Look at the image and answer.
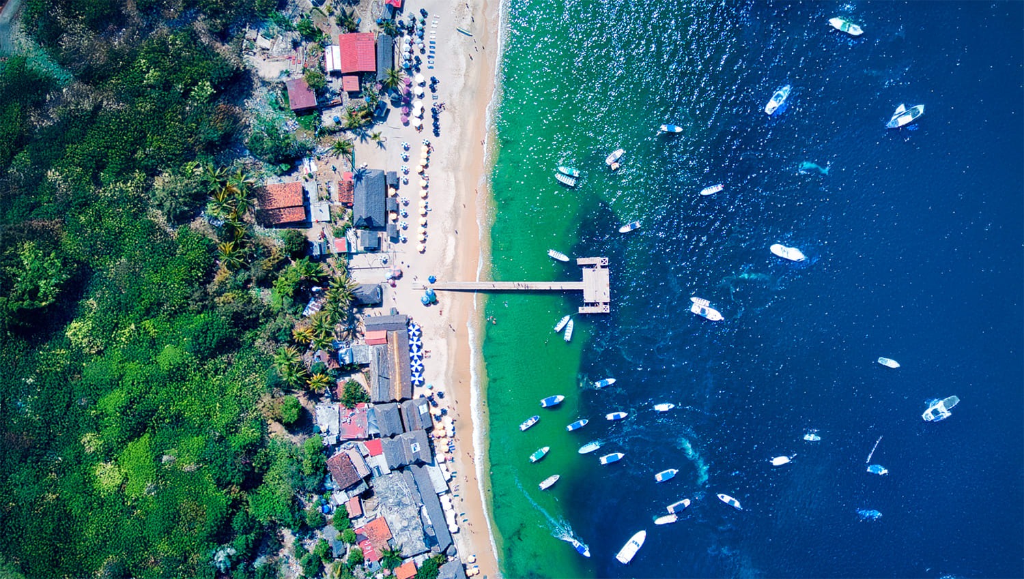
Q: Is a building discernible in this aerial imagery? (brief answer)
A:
Yes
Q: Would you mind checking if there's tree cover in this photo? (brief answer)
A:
Yes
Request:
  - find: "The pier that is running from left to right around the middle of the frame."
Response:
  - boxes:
[412,258,609,313]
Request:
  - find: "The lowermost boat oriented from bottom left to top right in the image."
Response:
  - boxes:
[616,530,645,566]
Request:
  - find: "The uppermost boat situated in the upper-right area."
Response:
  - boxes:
[826,16,864,33]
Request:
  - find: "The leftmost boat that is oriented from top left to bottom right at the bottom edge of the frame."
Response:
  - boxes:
[571,539,590,557]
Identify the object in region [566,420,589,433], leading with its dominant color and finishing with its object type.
blue boat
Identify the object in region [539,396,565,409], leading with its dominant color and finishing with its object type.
blue boat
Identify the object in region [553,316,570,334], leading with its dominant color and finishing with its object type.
white boat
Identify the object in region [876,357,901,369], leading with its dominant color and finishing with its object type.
white boat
